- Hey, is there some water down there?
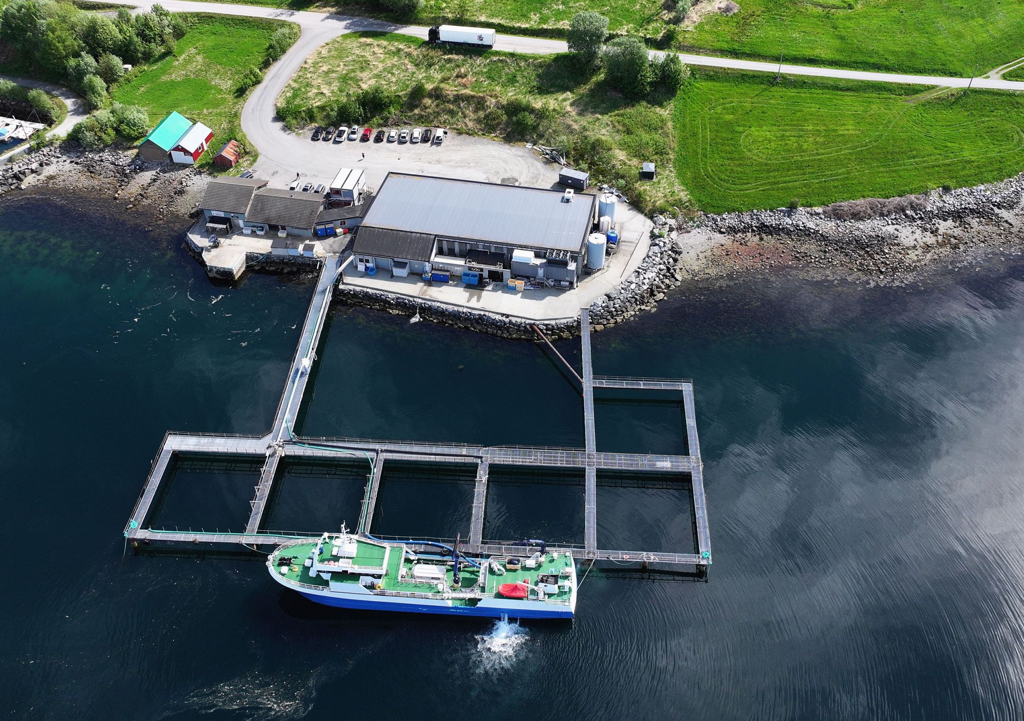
Yes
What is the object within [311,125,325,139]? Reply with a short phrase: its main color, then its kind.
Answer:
black car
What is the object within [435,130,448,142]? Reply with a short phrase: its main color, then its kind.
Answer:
white vehicle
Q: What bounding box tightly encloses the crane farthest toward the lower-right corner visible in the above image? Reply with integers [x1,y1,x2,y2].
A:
[485,538,549,564]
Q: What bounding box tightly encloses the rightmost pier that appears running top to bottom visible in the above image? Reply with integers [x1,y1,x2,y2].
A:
[579,309,597,559]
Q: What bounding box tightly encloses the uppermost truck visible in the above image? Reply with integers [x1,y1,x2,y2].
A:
[429,26,495,50]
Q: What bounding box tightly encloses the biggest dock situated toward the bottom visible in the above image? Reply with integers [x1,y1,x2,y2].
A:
[122,375,713,570]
